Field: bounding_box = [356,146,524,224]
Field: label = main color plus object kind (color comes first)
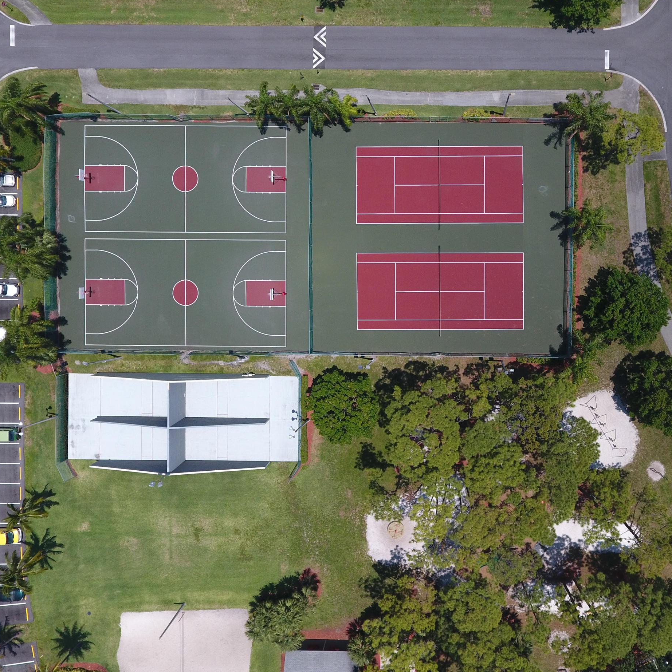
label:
red tennis court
